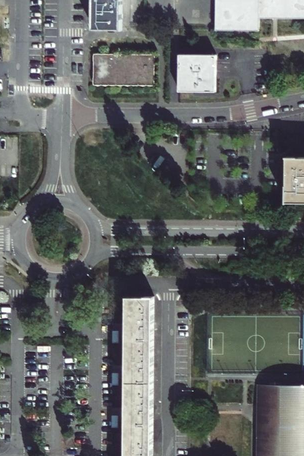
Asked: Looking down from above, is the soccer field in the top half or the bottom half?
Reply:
bottom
